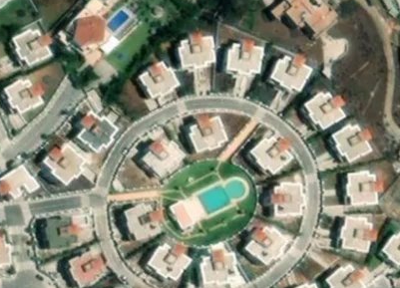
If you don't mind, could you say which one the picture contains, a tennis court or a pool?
pool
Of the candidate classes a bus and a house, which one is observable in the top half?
house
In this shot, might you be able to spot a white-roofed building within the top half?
Yes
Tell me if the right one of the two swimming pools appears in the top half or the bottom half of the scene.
bottom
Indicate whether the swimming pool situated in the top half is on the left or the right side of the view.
left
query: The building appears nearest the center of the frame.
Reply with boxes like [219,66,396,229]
[189,116,232,157]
